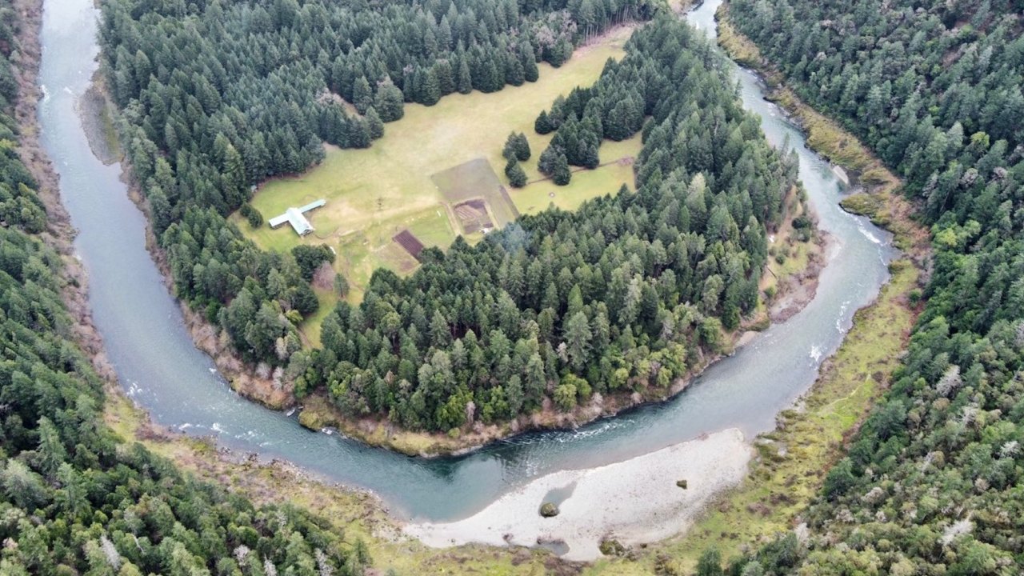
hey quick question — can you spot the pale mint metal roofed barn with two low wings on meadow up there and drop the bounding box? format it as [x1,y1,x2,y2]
[269,204,328,241]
